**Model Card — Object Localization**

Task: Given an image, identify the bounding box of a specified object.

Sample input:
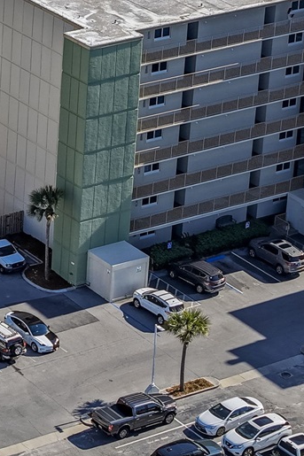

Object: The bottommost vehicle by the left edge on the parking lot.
[2,307,56,349]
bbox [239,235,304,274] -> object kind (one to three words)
car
